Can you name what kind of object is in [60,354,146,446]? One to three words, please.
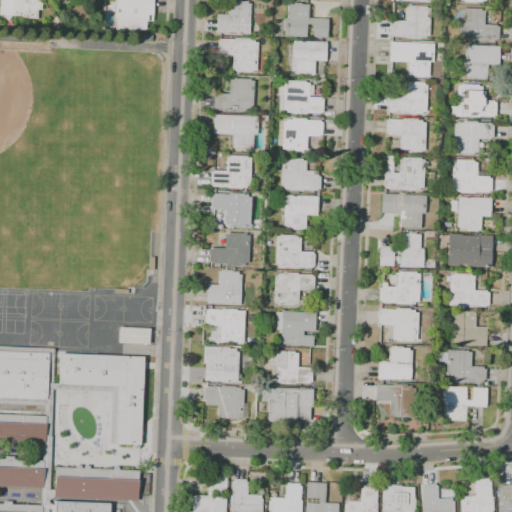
building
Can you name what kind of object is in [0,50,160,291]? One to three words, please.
baseball field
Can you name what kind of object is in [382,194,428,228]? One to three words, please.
house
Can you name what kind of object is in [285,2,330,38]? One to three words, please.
house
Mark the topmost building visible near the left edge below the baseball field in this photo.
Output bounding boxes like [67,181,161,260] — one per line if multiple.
[0,352,50,400]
